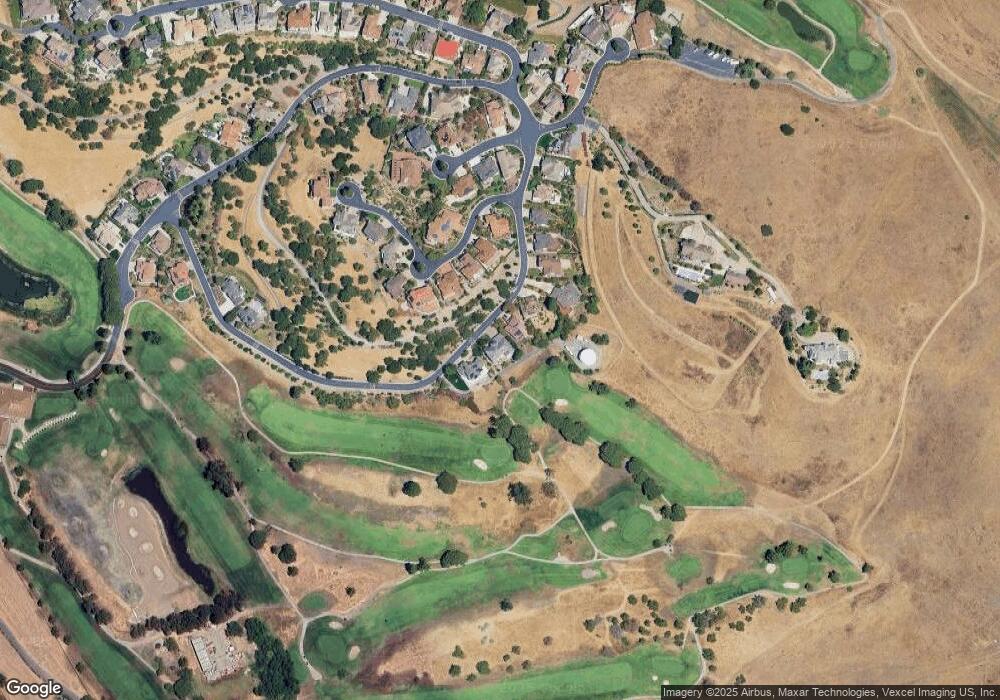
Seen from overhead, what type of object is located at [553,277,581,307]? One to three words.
house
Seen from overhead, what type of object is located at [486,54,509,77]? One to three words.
house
